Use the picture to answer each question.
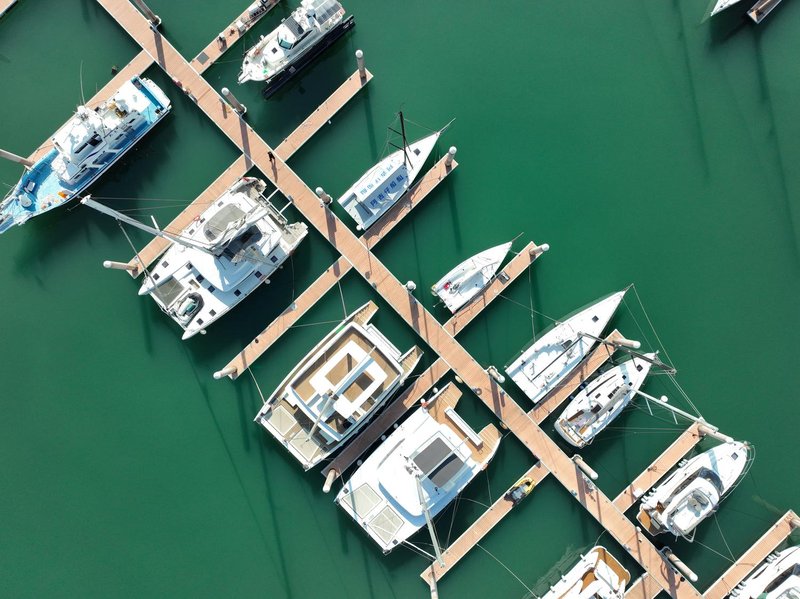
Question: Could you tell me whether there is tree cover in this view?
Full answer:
No, there's no tree cover in this view.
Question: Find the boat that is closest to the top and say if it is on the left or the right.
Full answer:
The boat that is closest to the top appears in the right half of the scene.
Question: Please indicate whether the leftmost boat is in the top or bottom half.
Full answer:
Seen from above, the leftmost boat lies in the top half of the view.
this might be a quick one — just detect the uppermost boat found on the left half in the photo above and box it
[233,0,364,94]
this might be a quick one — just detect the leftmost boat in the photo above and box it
[0,62,173,236]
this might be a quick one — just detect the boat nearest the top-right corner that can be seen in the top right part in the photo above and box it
[699,0,754,27]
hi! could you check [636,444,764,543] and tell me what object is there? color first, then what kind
white boat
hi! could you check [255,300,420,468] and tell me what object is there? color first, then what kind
white boat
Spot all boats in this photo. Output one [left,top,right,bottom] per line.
[0,62,173,236]
[502,284,682,401]
[636,444,764,543]
[505,476,537,505]
[233,0,364,94]
[699,0,754,27]
[534,544,630,599]
[720,545,800,599]
[171,293,201,327]
[338,109,455,230]
[430,233,523,313]
[255,300,420,468]
[552,353,725,452]
[337,385,503,568]
[80,173,312,339]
